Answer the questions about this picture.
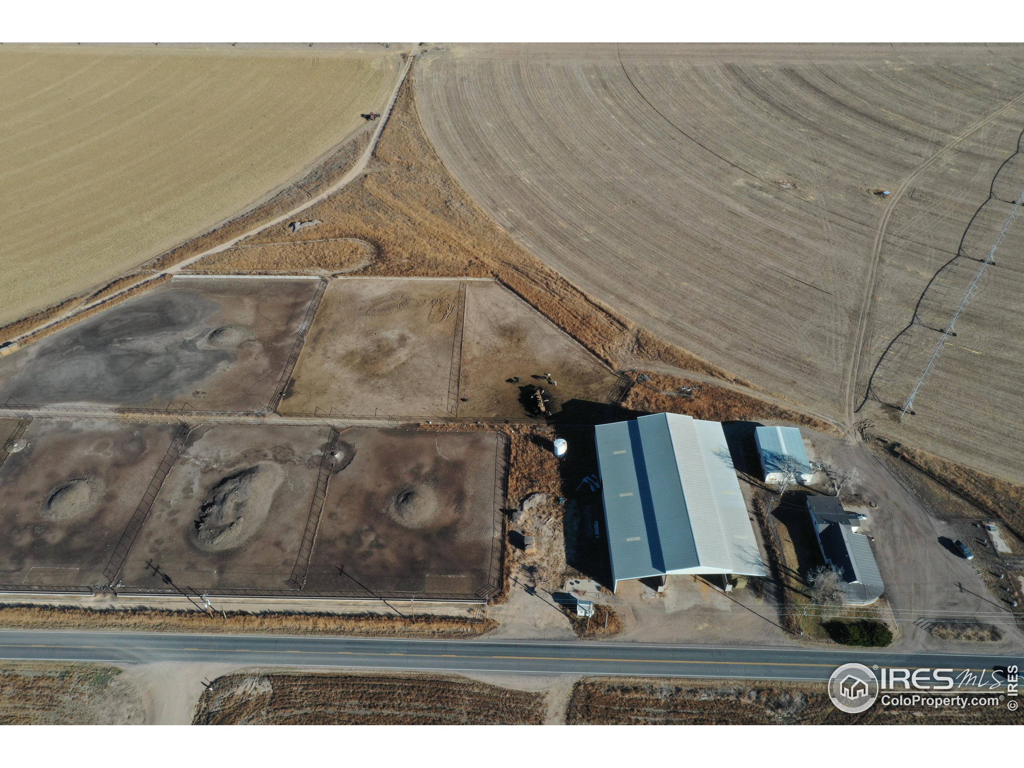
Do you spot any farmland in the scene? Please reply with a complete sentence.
Yes, some farmland is visible.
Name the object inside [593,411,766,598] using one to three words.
barn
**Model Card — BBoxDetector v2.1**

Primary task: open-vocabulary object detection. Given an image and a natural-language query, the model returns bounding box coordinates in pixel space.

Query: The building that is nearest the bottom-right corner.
[805,496,884,607]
